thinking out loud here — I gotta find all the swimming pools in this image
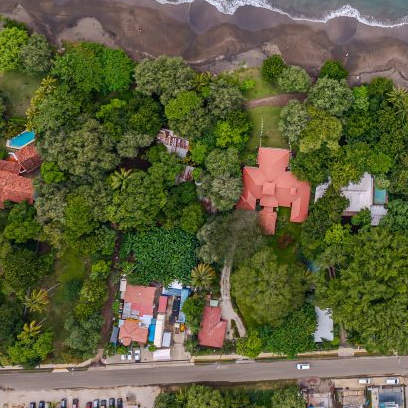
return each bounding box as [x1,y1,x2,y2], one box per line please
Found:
[374,188,387,204]
[7,130,35,149]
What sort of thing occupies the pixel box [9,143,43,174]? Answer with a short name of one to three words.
building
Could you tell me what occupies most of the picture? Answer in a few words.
trees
